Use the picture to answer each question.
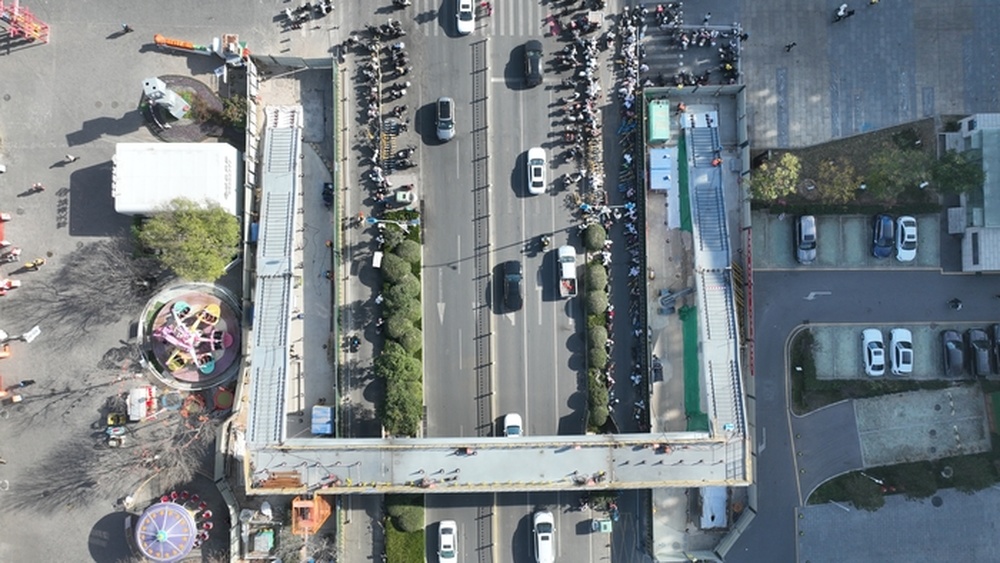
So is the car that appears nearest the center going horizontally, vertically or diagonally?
vertically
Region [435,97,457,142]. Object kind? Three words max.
car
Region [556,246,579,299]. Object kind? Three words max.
vehicle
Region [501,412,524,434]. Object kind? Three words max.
car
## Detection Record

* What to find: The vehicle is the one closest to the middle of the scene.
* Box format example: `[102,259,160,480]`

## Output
[501,261,524,313]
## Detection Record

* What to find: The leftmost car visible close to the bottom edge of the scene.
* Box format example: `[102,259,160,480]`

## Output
[436,518,459,563]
